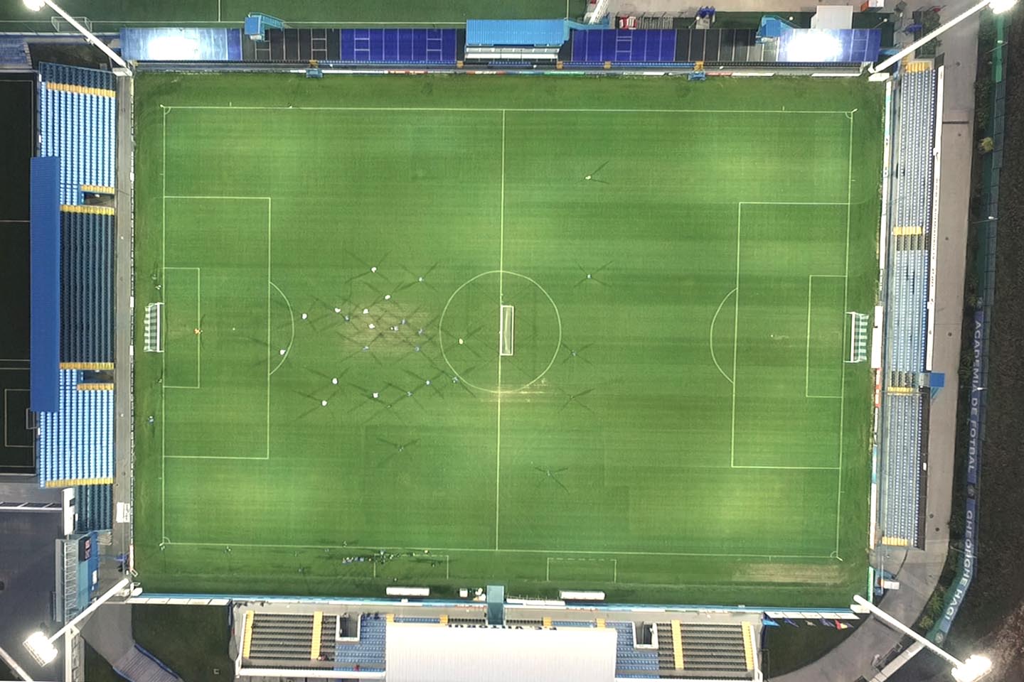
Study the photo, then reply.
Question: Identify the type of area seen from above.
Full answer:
What you see here is a sports ground.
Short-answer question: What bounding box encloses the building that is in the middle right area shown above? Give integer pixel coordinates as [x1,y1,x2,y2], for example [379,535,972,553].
[916,372,945,391]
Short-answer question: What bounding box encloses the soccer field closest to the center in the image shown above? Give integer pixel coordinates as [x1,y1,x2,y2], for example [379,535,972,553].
[133,75,883,612]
